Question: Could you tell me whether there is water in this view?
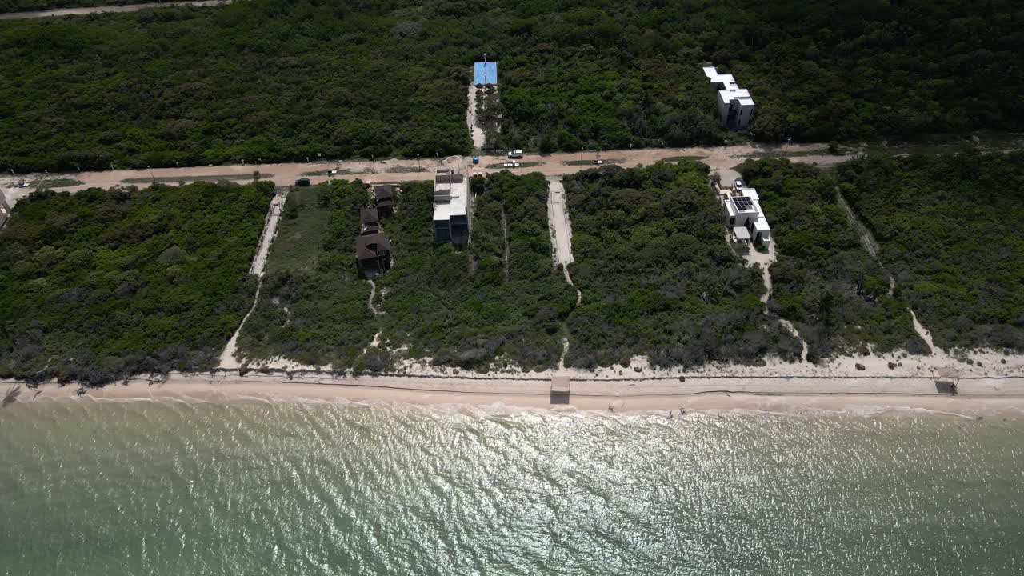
Yes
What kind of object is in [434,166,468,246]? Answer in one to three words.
building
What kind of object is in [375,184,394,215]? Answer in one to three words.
shed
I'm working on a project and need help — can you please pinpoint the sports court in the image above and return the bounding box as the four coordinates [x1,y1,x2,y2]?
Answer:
[473,61,497,84]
